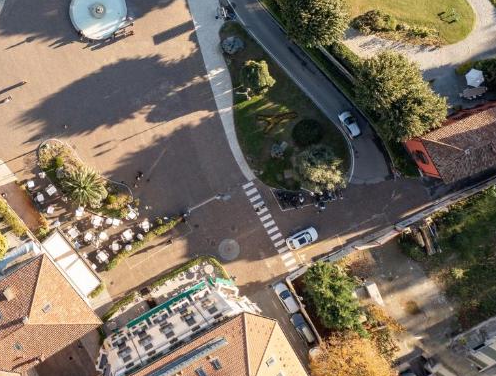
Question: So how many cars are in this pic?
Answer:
4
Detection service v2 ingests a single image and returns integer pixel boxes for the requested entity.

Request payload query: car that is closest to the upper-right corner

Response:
[334,107,363,142]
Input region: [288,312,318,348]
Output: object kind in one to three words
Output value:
car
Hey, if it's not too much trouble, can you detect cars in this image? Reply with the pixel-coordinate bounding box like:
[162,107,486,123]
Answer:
[288,312,318,348]
[271,280,298,315]
[334,107,363,142]
[283,225,320,251]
